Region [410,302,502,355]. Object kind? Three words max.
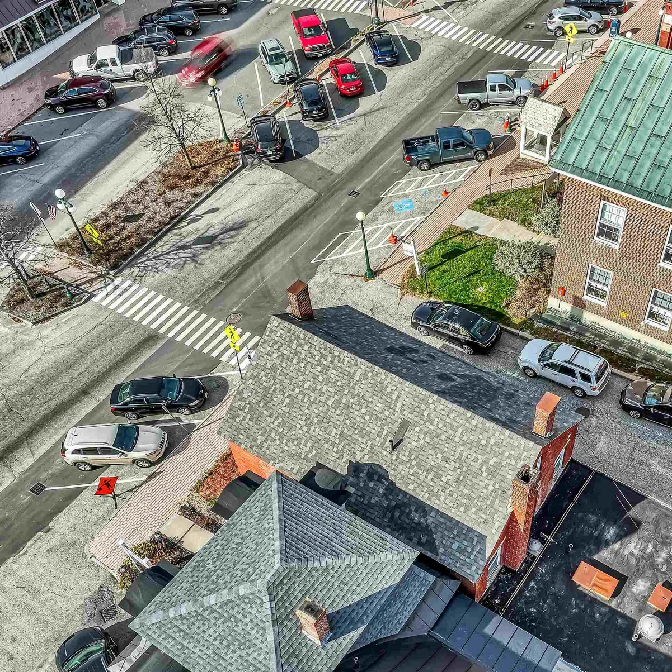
car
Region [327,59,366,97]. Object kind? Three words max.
car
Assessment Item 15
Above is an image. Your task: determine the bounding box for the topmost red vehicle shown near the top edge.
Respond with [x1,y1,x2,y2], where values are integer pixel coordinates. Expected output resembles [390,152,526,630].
[290,7,333,58]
